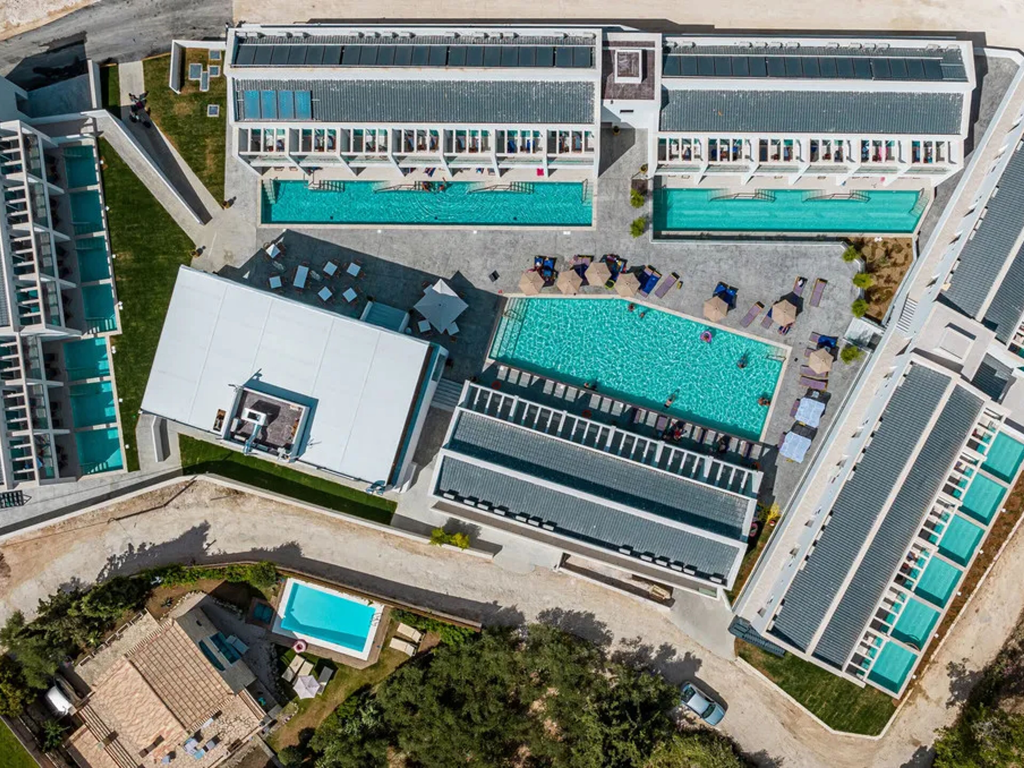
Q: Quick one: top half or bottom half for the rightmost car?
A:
bottom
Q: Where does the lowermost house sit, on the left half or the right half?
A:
left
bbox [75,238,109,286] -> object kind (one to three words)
swimming pool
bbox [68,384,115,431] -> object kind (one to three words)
swimming pool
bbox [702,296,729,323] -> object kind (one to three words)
umbrella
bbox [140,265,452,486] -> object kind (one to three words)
building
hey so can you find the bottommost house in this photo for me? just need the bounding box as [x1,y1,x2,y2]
[88,596,273,768]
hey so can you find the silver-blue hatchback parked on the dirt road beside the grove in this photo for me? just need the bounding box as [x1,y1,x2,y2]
[677,678,726,725]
